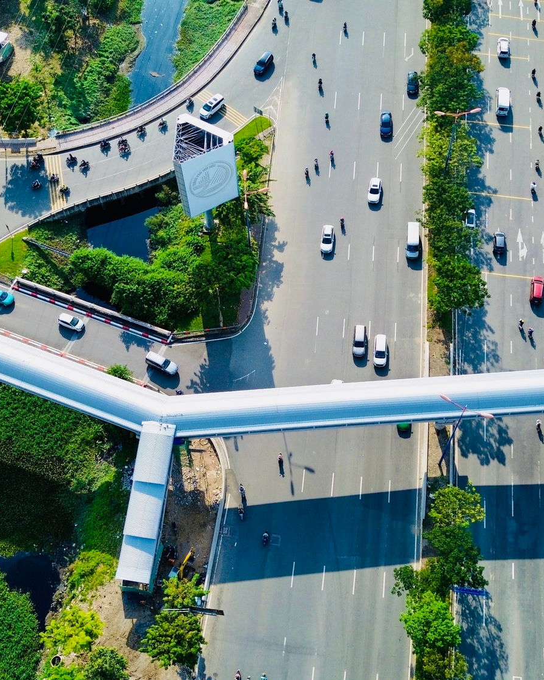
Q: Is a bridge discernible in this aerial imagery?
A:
Yes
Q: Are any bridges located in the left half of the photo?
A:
Yes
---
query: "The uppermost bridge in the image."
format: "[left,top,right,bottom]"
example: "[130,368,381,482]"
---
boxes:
[43,169,176,218]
